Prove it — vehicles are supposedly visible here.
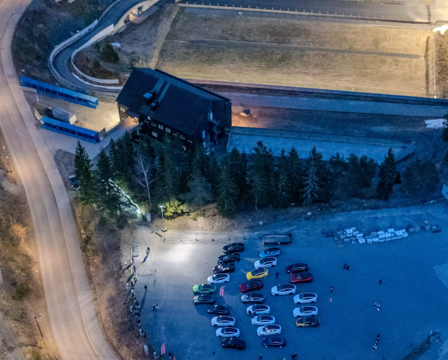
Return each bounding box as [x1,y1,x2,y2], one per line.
[247,267,270,280]
[259,246,282,258]
[262,336,287,348]
[294,292,318,304]
[211,315,236,327]
[296,316,321,327]
[240,279,263,293]
[257,324,282,337]
[294,304,318,317]
[286,262,310,274]
[247,303,271,316]
[208,272,231,283]
[241,293,265,304]
[213,261,236,274]
[272,283,296,296]
[221,338,247,351]
[255,256,278,269]
[207,304,231,316]
[252,315,276,326]
[69,173,80,189]
[291,273,314,284]
[218,250,241,262]
[216,326,240,339]
[193,283,217,295]
[222,240,246,252]
[193,293,216,304]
